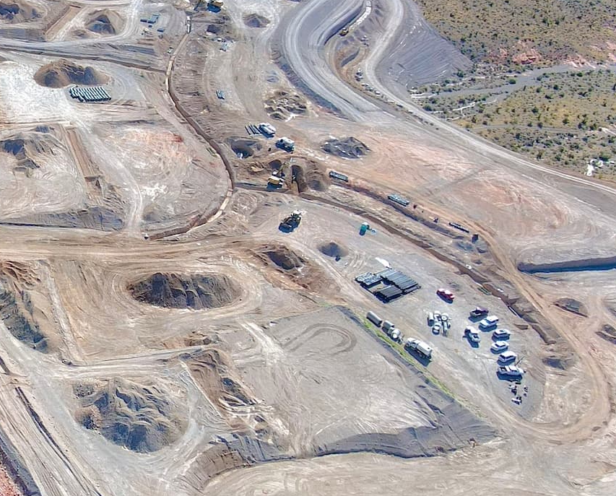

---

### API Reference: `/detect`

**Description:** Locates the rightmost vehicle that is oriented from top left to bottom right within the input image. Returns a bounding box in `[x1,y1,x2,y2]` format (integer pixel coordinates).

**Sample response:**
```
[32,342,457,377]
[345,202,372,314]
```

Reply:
[463,327,484,345]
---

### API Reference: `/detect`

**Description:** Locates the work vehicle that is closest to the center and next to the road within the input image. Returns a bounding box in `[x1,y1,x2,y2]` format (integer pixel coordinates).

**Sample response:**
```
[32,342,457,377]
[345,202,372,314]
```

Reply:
[274,202,301,231]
